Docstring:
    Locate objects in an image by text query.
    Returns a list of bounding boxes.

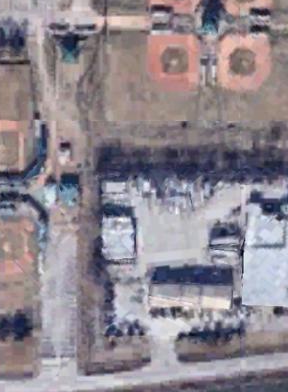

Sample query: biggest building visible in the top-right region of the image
[198,5,222,31]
